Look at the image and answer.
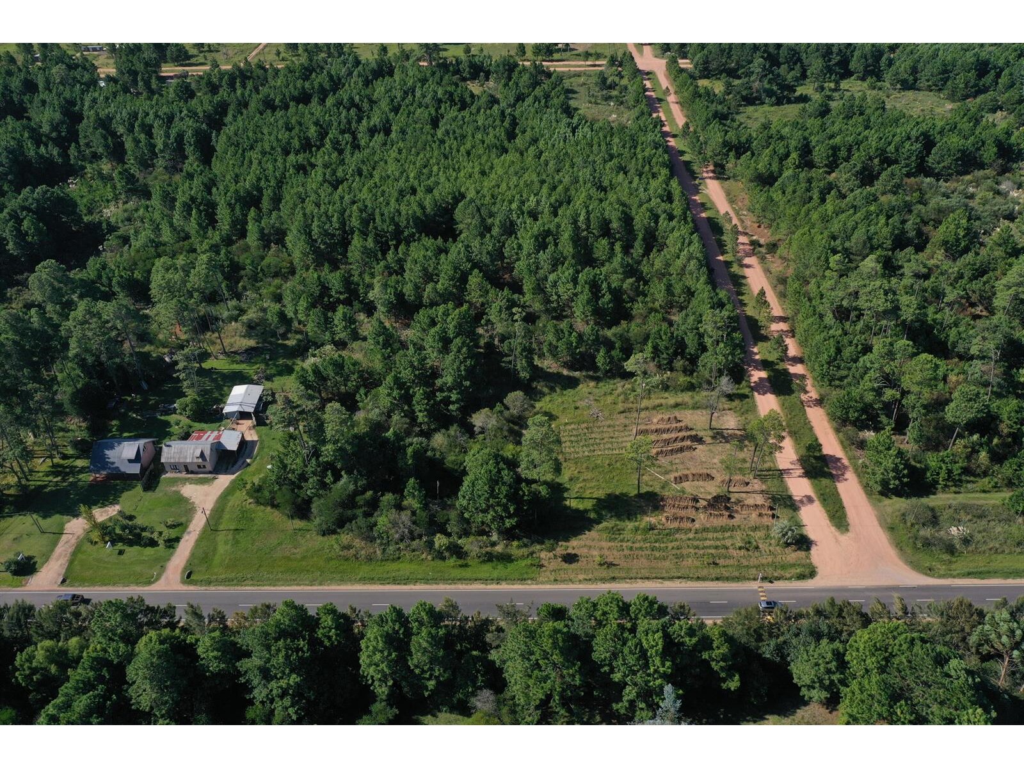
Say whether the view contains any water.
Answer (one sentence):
No, the scene doesn't show any water.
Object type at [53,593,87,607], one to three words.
vehicle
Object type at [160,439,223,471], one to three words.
house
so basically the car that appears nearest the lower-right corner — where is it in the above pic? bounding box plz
[755,600,783,613]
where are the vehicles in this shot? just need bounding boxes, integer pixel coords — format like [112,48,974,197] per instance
[53,593,87,607]
[755,600,783,613]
